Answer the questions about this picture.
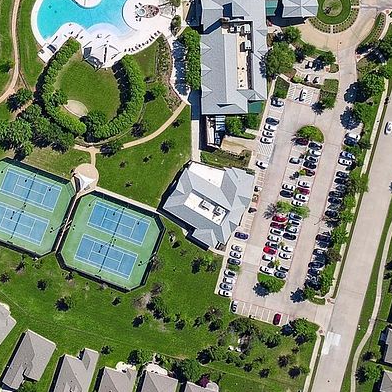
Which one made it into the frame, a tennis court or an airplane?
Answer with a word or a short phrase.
tennis court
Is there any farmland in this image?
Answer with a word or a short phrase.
No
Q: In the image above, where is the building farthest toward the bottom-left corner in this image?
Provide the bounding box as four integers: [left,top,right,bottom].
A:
[4,328,55,392]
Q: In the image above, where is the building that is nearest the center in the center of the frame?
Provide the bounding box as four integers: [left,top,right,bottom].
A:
[161,160,254,249]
